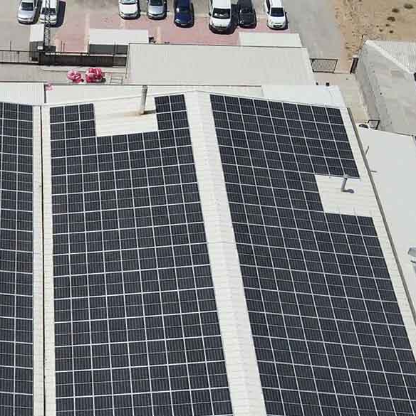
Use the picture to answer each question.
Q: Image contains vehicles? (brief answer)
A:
Yes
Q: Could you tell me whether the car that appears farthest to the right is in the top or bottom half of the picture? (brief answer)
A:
top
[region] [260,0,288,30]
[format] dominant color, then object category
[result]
white car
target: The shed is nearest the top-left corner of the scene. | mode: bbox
[28,27,52,61]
